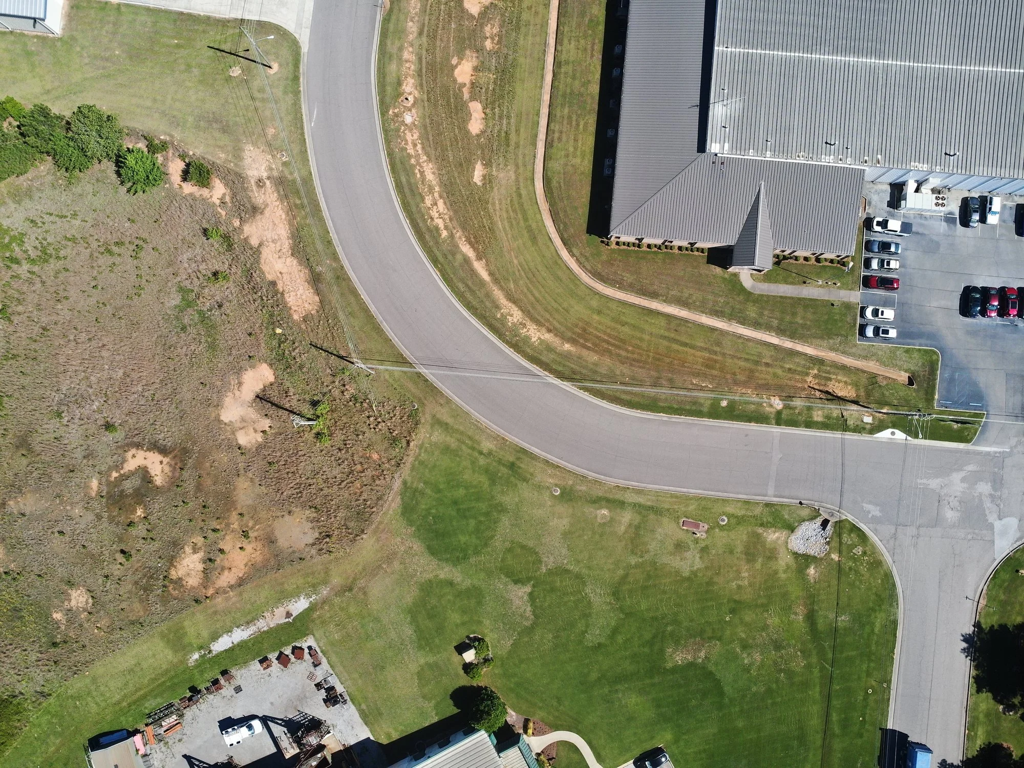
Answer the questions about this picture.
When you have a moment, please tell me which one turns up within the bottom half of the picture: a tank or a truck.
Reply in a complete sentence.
The one visible within the bottom half of the picture is a truck.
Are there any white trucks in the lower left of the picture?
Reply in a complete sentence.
Yes, you'll find a white truck in the lower left of the picture.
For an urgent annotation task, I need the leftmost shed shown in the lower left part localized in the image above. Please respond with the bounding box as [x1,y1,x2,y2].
[90,729,156,768]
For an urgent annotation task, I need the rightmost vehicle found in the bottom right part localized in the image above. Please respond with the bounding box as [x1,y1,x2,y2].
[901,736,931,768]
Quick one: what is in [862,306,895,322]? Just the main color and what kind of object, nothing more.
white car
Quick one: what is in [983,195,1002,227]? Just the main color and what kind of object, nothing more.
white car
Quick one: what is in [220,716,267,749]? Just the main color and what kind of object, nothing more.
white truck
